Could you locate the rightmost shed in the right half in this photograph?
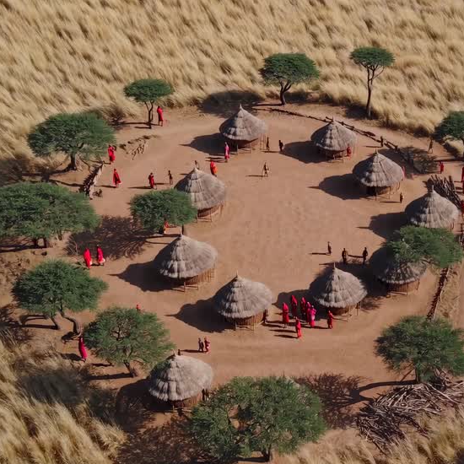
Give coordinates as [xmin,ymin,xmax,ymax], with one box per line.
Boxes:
[406,181,461,231]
